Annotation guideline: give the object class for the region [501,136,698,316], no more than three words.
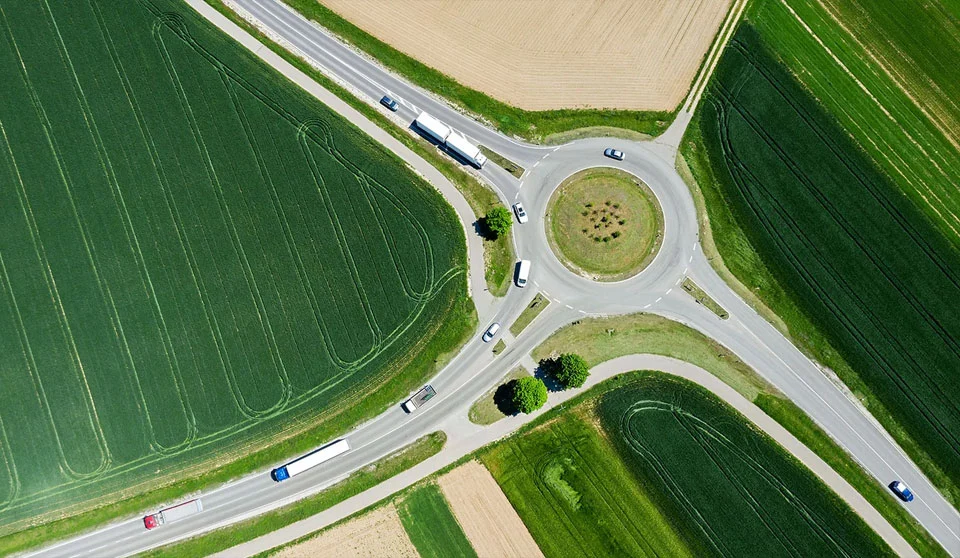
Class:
roundabout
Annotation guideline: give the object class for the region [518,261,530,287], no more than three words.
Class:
vehicle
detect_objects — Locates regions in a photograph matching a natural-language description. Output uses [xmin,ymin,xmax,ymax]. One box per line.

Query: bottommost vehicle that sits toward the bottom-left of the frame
[143,497,206,529]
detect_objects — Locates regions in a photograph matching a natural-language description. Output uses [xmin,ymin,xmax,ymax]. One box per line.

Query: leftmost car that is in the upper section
[382,96,399,112]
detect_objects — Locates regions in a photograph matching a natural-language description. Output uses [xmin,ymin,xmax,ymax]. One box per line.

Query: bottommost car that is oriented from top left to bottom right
[892,481,913,501]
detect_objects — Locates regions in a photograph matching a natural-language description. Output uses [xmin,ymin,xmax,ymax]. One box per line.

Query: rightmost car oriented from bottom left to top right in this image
[483,323,500,342]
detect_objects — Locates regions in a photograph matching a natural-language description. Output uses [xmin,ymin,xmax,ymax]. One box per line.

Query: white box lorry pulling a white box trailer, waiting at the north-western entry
[416,111,488,170]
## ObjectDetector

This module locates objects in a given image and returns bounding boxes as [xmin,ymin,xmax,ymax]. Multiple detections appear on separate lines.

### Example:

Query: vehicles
[514,203,528,223]
[892,481,913,501]
[483,323,500,342]
[404,385,437,414]
[518,261,530,287]
[143,497,206,529]
[382,96,399,112]
[416,111,488,170]
[276,436,352,480]
[604,148,625,159]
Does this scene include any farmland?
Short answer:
Yes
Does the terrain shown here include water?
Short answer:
No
